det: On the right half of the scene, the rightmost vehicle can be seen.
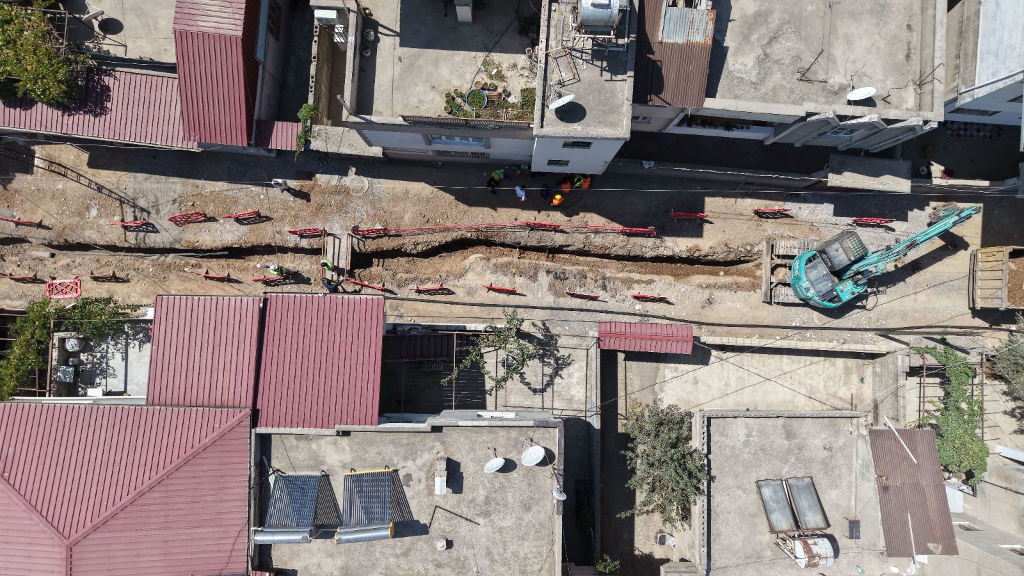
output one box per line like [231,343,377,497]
[959,249,1024,307]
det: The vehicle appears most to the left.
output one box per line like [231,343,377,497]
[760,192,988,309]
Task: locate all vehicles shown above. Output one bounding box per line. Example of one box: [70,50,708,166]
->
[760,192,988,309]
[959,249,1024,307]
